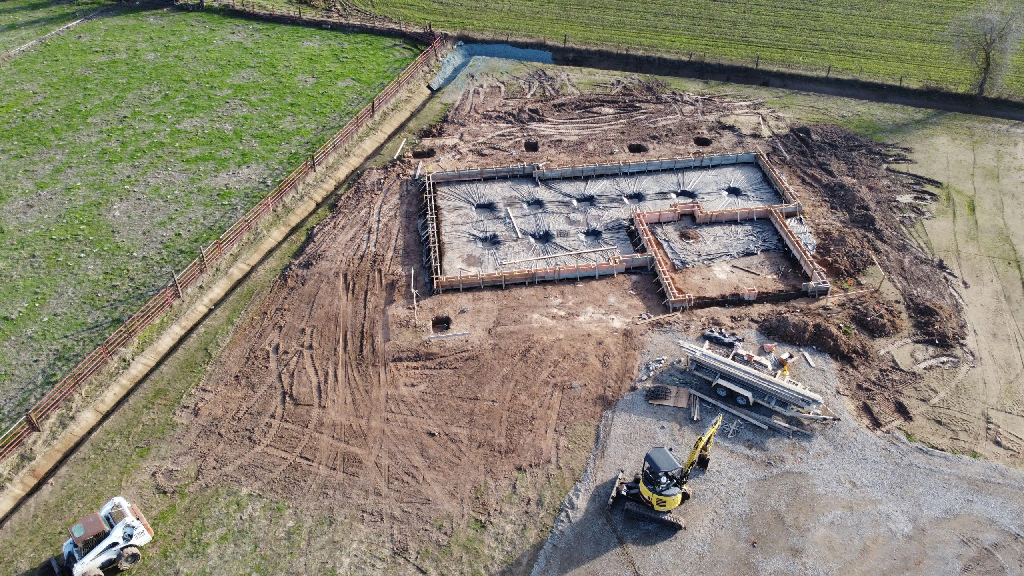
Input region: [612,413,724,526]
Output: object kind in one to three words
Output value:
work vehicle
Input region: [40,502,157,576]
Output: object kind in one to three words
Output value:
work vehicle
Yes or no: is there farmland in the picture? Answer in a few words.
Yes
